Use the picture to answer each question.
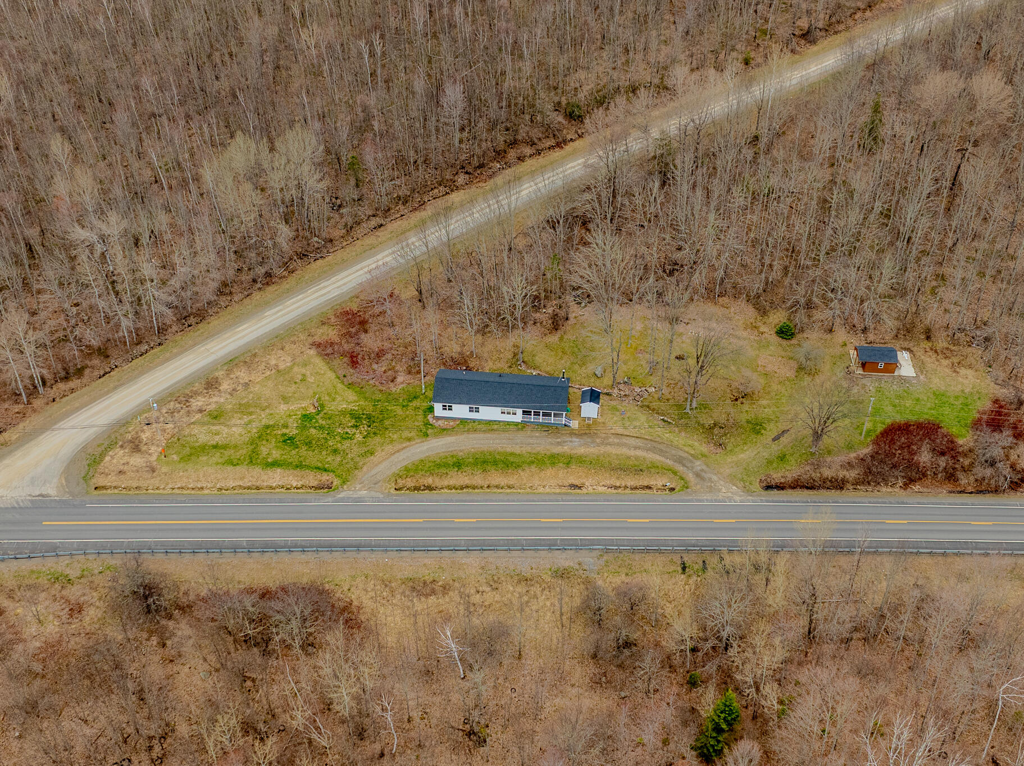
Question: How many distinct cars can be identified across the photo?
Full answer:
Not a single car can be seen.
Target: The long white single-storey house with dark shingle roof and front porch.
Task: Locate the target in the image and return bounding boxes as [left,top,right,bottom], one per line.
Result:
[432,369,570,428]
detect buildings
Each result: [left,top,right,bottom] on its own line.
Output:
[853,347,899,373]
[432,369,570,428]
[580,388,600,418]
